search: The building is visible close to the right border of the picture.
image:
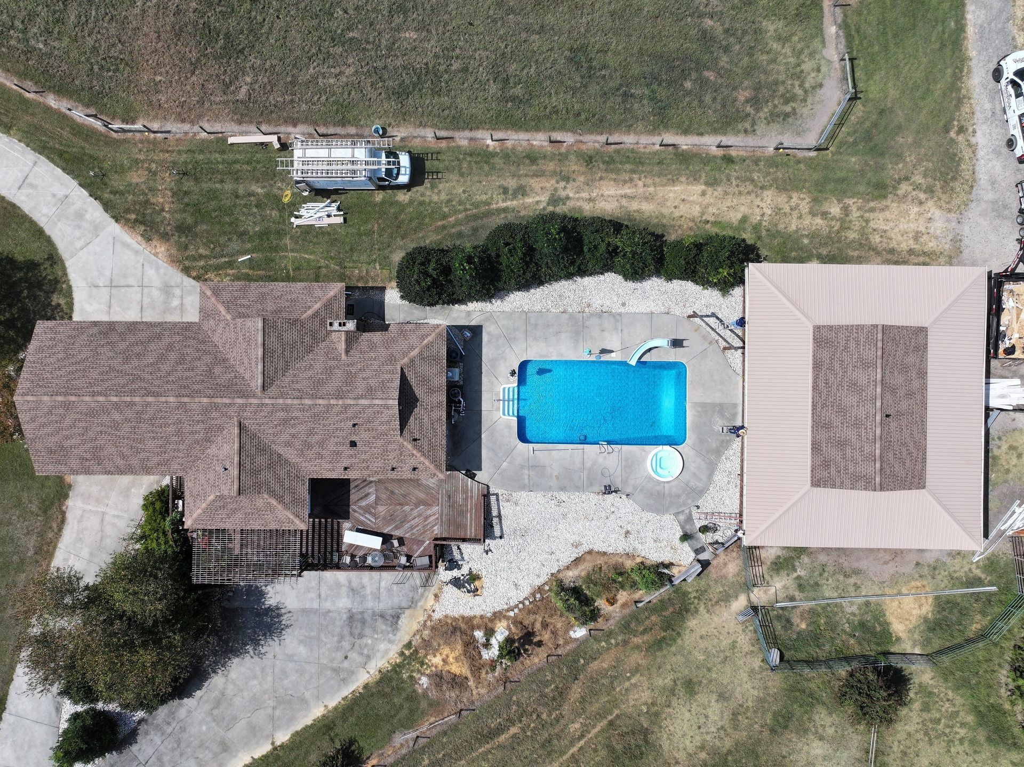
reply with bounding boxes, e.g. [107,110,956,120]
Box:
[737,260,990,553]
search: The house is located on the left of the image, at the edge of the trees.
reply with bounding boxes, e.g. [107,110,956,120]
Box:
[11,282,448,528]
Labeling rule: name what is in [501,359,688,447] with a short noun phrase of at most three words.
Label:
swimming pool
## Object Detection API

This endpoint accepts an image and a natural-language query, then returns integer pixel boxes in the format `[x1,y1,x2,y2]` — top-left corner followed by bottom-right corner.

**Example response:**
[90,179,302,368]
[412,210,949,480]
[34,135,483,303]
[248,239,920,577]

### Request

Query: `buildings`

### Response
[737,260,990,553]
[11,282,448,528]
